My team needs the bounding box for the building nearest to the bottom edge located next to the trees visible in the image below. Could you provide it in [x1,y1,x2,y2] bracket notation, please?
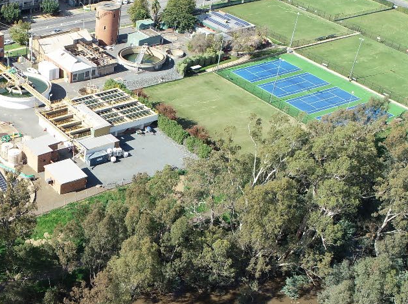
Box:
[43,158,88,193]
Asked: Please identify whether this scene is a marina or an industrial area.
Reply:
industrial area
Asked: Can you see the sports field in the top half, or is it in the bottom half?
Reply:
top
